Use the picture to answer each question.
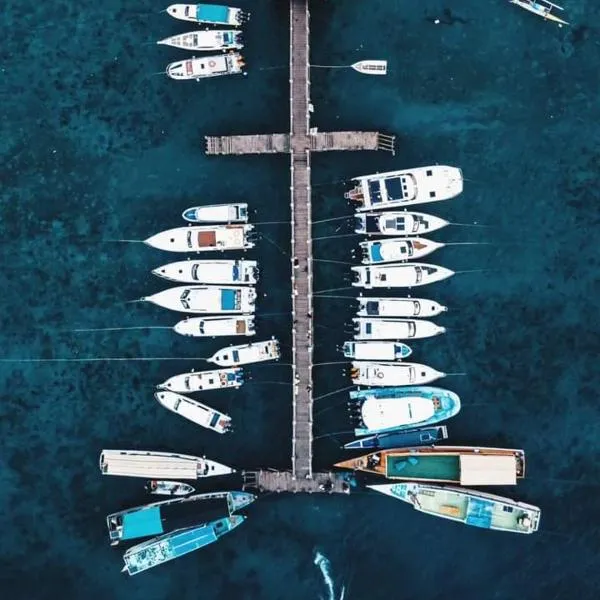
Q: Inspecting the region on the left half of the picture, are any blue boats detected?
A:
Yes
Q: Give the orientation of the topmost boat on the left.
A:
horizontally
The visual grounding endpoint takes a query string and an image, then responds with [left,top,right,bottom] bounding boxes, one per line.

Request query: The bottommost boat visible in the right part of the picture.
[365,482,541,533]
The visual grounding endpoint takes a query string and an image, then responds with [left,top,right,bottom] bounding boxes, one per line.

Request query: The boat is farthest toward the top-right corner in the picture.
[504,0,571,25]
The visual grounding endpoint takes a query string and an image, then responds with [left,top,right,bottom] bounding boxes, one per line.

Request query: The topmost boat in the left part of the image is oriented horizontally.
[166,1,252,29]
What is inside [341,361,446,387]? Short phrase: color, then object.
white boat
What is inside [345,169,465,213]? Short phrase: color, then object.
white boat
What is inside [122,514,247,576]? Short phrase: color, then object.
blue boat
